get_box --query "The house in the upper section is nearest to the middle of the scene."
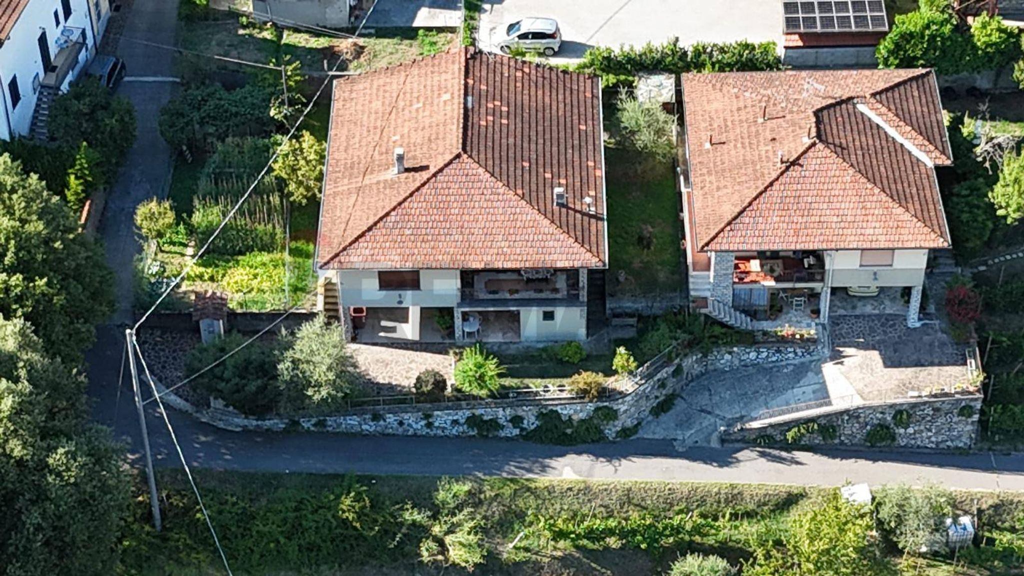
[314,45,610,345]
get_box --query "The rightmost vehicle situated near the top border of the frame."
[494,21,562,60]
